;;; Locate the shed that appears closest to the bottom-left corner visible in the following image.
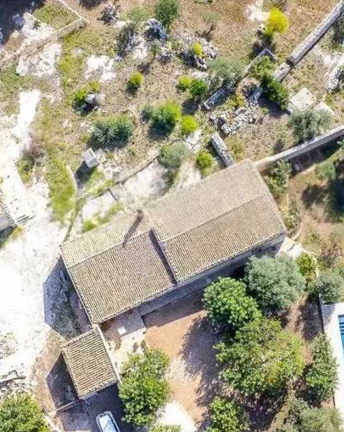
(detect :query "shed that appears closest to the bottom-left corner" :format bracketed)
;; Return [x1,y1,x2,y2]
[61,324,121,400]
